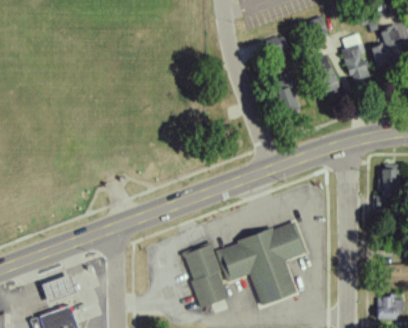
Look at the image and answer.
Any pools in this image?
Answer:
No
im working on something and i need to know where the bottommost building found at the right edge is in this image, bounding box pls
[376,295,406,320]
